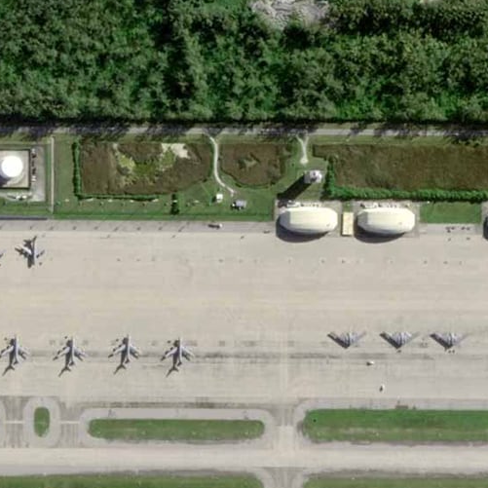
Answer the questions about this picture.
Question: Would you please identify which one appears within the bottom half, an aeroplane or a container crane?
aeroplane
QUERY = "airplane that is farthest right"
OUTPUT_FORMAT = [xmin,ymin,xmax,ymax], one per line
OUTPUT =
[433,332,468,347]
